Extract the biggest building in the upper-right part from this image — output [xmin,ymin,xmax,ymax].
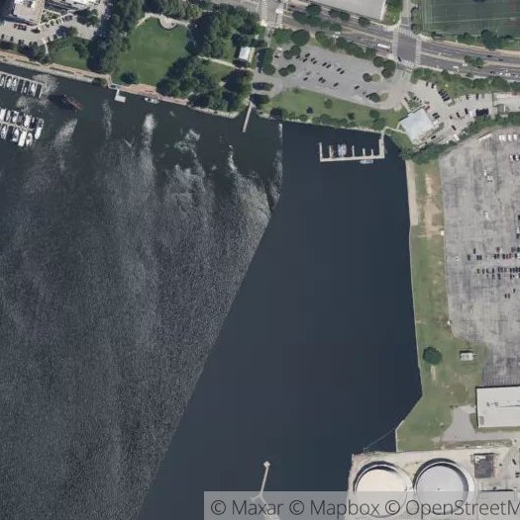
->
[399,109,435,144]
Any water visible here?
Yes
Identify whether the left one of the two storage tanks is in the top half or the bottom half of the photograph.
bottom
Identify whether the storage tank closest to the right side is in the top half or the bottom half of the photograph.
bottom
